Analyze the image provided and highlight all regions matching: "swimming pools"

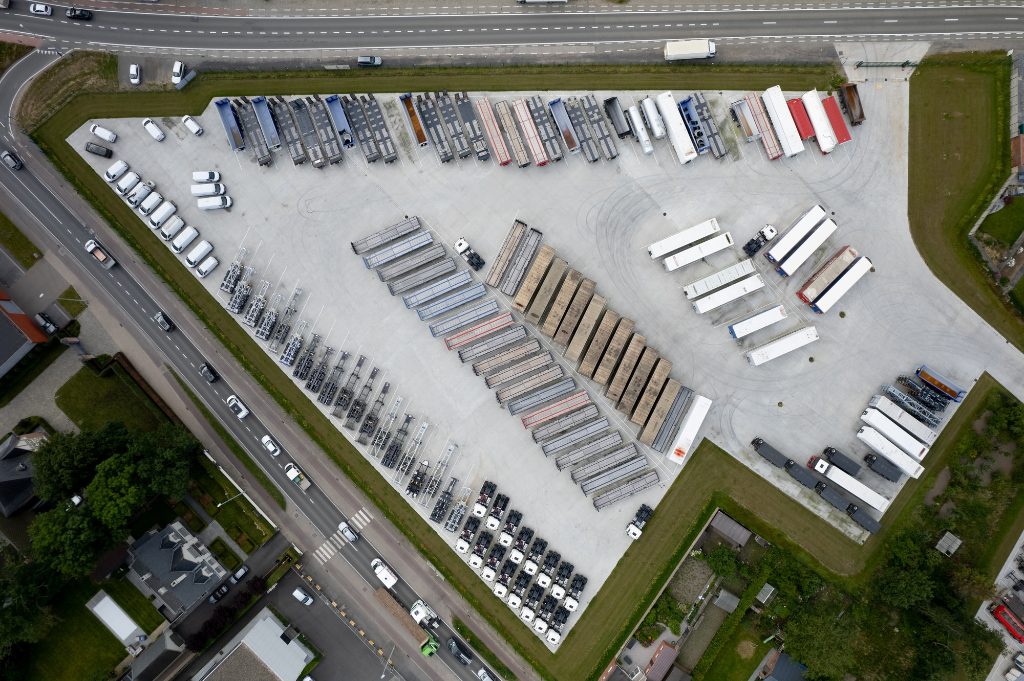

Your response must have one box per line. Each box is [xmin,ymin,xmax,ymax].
[84,585,151,654]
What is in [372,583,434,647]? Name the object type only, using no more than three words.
trailer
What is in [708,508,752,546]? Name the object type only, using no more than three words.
shed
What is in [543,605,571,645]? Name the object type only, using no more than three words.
truck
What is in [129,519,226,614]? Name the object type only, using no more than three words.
house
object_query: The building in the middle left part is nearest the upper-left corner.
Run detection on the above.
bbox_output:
[0,292,45,383]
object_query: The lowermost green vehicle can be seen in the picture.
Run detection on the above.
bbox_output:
[422,636,441,659]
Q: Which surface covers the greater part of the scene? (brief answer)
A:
paved ground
